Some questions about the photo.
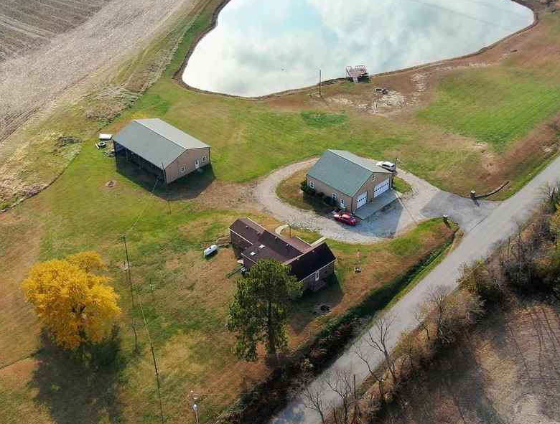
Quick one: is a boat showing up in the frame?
No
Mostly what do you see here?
grass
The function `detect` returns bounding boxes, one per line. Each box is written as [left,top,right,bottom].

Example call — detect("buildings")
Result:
[305,151,395,211]
[227,217,337,291]
[111,120,212,184]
